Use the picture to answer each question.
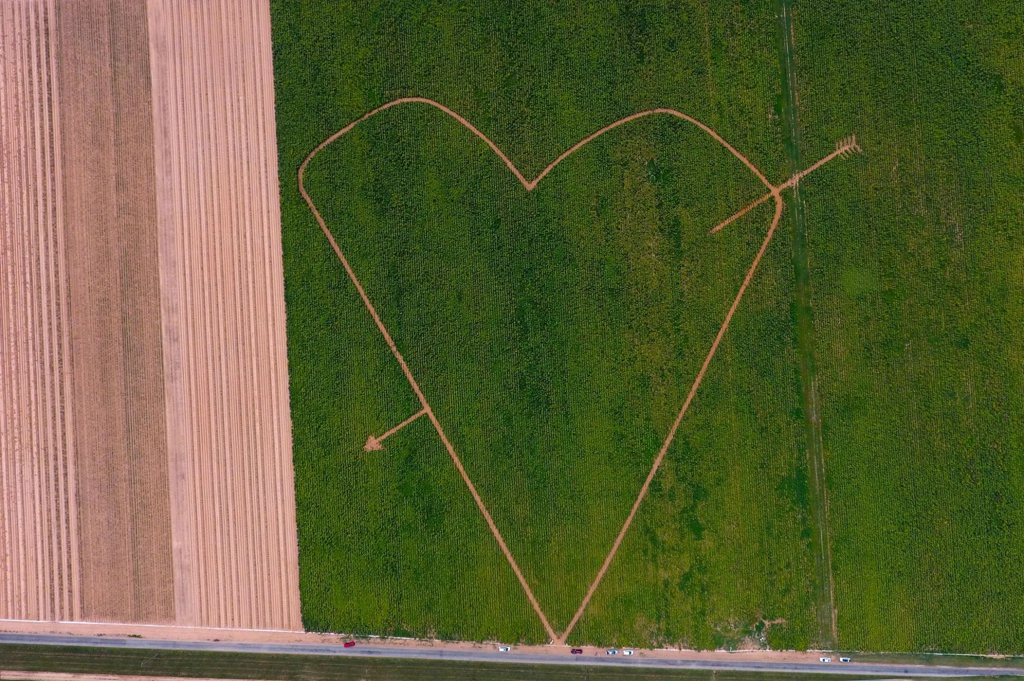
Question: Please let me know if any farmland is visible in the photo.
Yes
